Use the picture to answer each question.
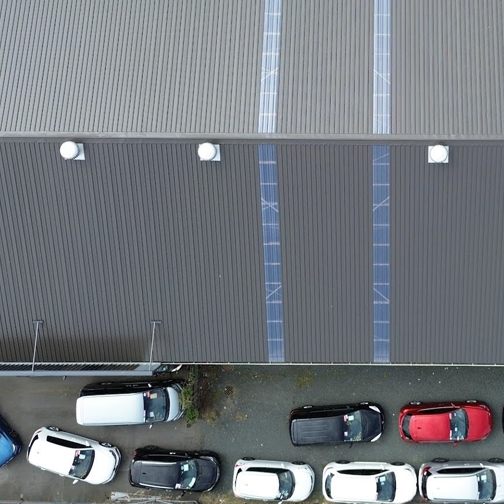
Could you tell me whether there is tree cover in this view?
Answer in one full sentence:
No, the scene doesn't show any tree cover.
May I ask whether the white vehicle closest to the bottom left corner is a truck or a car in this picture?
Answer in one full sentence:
What you see as the white vehicle closest to the bottom left corner is a car.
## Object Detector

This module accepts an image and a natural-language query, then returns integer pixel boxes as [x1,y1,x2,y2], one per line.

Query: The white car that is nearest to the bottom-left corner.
[32,425,120,485]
